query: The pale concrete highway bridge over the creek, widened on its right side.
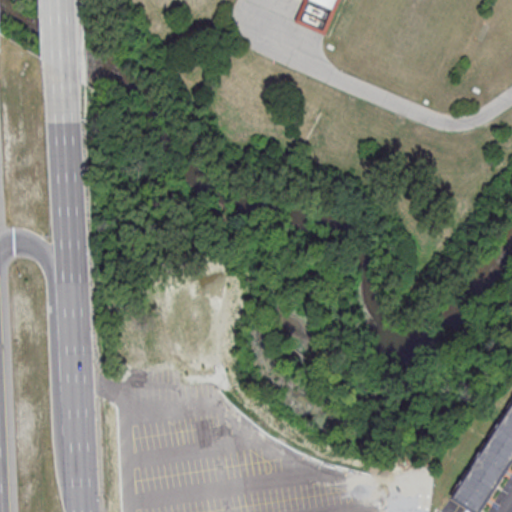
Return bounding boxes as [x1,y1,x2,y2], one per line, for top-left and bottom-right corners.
[38,0,87,122]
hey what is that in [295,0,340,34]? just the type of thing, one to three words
building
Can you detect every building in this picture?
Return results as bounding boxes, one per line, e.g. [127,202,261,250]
[295,0,340,34]
[454,408,512,512]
